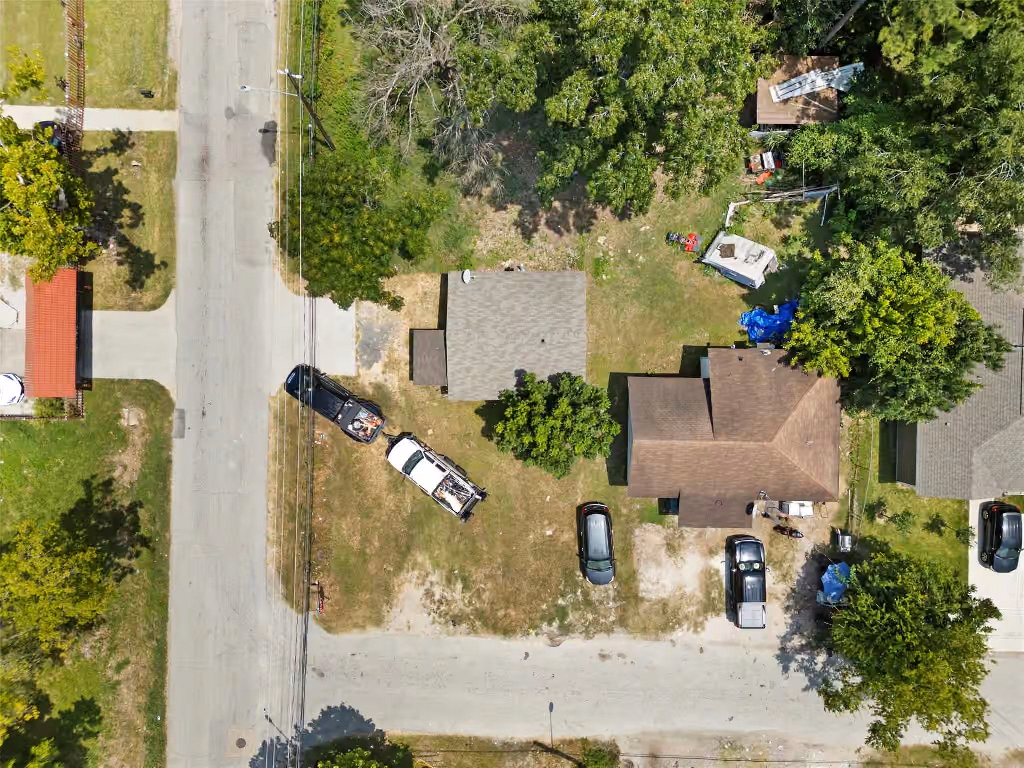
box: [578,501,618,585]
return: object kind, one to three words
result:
car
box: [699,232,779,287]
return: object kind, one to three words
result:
vehicle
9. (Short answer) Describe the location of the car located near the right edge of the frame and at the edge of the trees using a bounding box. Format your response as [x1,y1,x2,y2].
[981,500,1024,572]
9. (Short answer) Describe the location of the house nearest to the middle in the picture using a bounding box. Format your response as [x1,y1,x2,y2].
[410,272,589,400]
